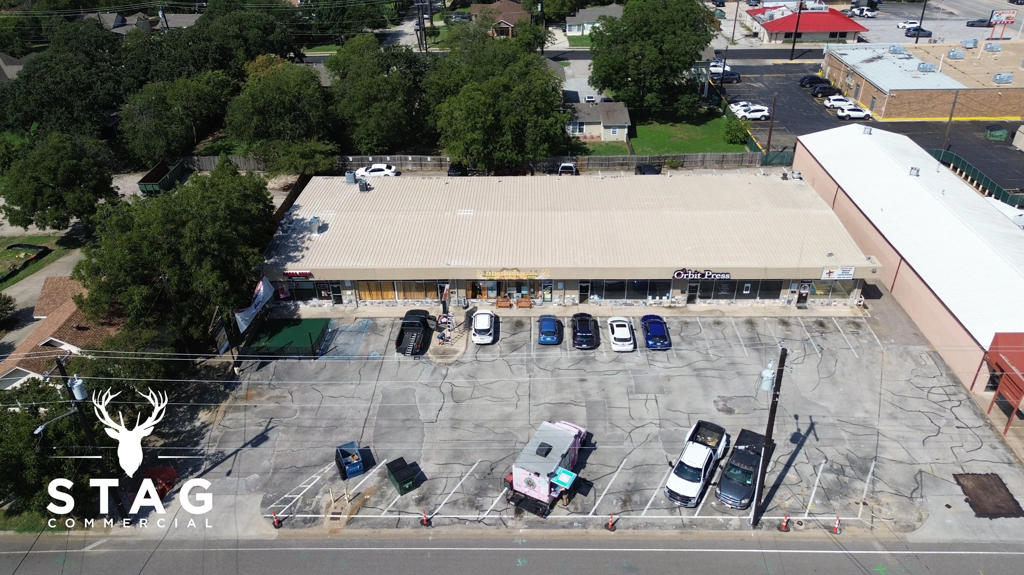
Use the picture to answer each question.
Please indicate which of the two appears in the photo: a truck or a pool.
truck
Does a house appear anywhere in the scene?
Yes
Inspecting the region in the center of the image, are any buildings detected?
Yes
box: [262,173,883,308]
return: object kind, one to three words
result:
building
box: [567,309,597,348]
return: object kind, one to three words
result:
car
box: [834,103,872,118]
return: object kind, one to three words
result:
car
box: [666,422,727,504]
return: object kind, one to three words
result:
truck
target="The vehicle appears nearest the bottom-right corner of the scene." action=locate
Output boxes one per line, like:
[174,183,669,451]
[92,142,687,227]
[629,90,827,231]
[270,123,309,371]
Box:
[718,427,778,508]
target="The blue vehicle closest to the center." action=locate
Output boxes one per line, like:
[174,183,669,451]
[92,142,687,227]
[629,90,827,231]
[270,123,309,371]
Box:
[534,310,561,343]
